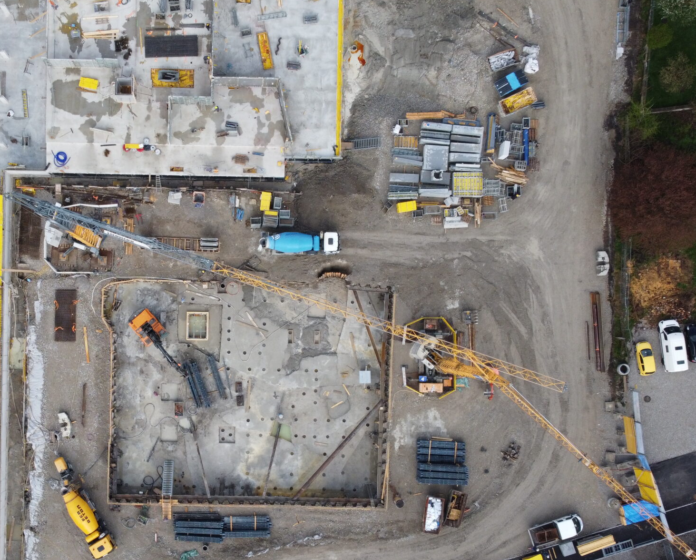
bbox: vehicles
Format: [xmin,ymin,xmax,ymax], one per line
[634,342,656,377]
[527,517,585,549]
[126,306,195,382]
[255,229,341,256]
[58,484,120,560]
[656,321,689,373]
[682,323,696,362]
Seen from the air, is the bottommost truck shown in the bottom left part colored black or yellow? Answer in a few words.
yellow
